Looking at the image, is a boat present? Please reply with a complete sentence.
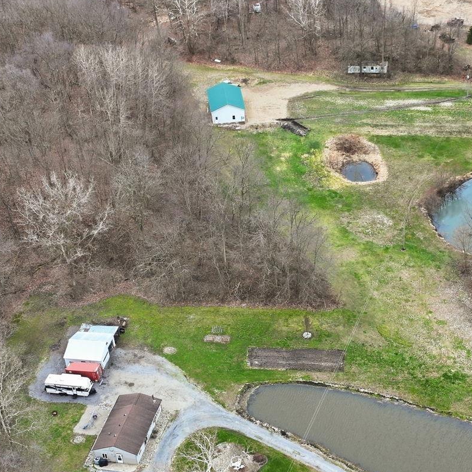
No, I find no boat anywhere in the image.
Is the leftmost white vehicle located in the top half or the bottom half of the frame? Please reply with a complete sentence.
The bottom half of the photo is where the leftmost white vehicle is.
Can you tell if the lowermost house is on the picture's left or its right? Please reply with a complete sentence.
The lowermost house appears in the left half of the scene.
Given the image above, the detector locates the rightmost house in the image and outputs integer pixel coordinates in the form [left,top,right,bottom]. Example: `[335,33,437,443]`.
[348,58,389,72]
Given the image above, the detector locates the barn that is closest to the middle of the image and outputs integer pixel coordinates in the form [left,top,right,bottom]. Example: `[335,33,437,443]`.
[210,85,246,124]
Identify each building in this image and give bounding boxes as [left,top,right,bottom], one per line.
[348,58,389,72]
[89,392,156,464]
[210,85,246,124]
[62,330,114,369]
